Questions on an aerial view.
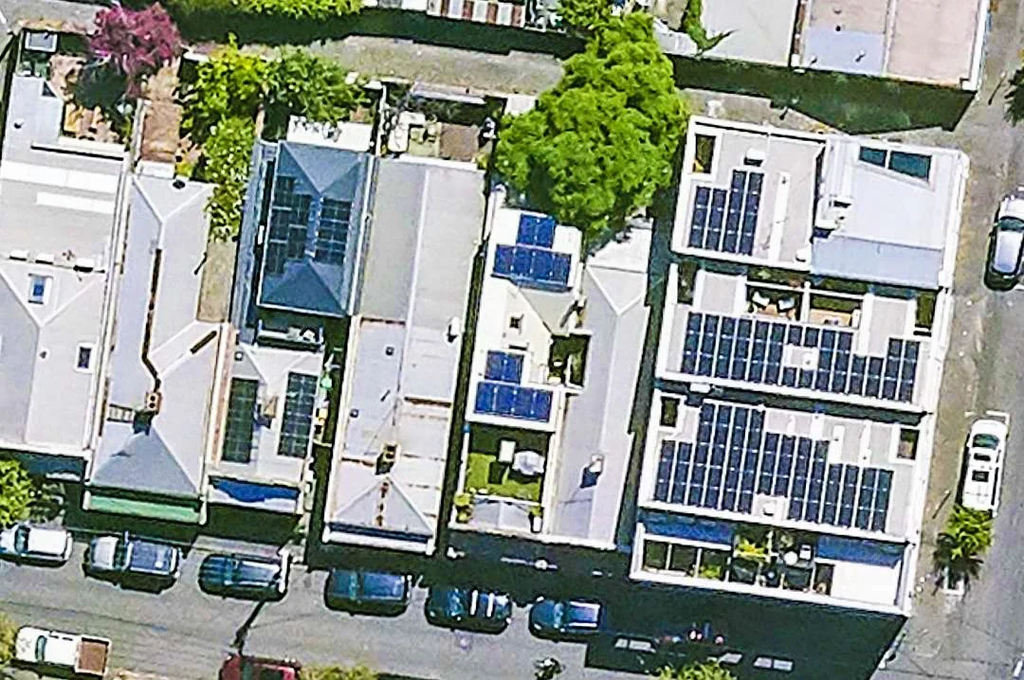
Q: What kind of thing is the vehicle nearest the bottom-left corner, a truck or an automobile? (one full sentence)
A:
I'd identify the vehicle nearest the bottom-left corner as a truck.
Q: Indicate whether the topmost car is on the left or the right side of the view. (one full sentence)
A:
You can find the topmost car on the right side of the picture.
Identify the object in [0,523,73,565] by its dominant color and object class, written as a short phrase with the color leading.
white car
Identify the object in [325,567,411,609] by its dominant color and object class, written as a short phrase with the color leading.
blue car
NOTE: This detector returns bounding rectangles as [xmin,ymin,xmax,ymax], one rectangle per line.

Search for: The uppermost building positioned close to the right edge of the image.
[797,0,987,93]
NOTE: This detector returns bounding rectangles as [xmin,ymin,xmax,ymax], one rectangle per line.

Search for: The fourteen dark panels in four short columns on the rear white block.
[689,171,764,253]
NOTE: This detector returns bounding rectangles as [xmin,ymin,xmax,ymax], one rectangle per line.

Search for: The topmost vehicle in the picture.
[981,192,1024,289]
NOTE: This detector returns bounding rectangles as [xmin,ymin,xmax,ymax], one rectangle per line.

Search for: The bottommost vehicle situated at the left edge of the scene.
[9,628,117,677]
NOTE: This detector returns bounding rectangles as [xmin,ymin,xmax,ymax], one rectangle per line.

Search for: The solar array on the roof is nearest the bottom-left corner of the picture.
[222,377,258,463]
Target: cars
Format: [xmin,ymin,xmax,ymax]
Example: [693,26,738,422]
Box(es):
[425,585,512,628]
[707,641,796,680]
[198,549,284,591]
[0,523,73,565]
[325,567,411,609]
[960,416,1008,513]
[593,622,674,663]
[89,537,181,582]
[528,595,605,636]
[219,657,302,680]
[981,192,1024,289]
